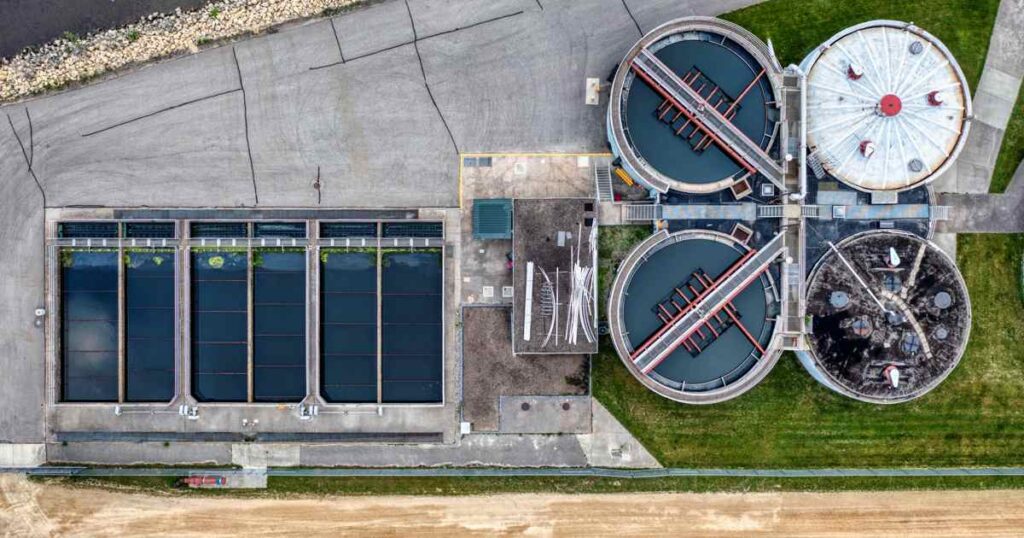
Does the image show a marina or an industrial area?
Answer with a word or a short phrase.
industrial area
